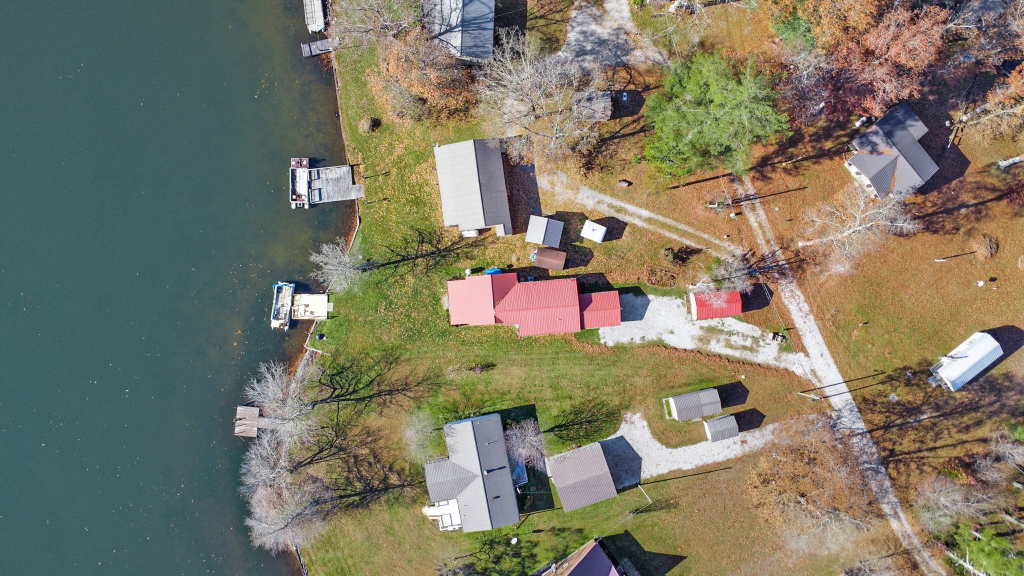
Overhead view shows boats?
Yes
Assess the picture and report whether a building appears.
Yes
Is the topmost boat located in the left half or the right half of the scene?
left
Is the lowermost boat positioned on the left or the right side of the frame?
left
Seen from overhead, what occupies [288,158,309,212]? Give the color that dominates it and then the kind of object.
white boat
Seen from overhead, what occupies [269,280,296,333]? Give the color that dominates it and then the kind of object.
white boat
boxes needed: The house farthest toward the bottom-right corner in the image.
[929,333,1004,394]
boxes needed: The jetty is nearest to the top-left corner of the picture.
[300,38,337,59]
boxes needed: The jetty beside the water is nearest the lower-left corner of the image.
[231,405,286,438]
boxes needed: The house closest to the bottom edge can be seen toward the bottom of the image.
[542,540,621,576]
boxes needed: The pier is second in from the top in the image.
[306,164,364,205]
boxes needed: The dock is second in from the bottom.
[290,293,334,320]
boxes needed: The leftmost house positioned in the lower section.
[425,413,520,532]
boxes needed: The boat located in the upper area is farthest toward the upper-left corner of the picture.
[303,0,327,38]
